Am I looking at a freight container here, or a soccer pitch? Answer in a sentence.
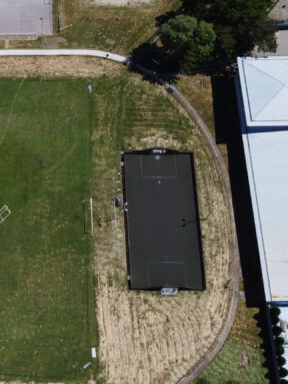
There is a soccer pitch in the scene.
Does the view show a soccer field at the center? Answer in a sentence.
Yes, looking at the center, one can make out a soccer field.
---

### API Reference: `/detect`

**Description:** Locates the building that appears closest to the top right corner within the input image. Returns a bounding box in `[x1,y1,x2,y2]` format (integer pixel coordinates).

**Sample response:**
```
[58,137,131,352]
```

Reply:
[232,58,288,140]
